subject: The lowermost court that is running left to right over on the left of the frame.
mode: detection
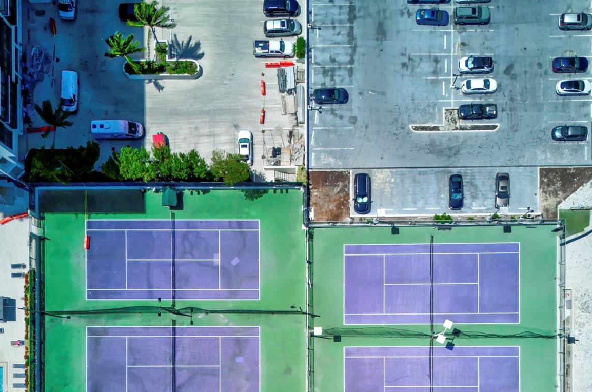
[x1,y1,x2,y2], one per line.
[86,318,260,392]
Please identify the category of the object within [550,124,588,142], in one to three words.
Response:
car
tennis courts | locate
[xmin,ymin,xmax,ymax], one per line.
[343,234,520,331]
[86,210,260,308]
[344,338,520,392]
[86,318,260,392]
